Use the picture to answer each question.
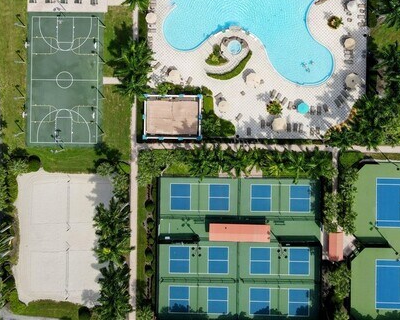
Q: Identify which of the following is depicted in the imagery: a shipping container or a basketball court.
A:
basketball court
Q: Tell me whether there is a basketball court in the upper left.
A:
Yes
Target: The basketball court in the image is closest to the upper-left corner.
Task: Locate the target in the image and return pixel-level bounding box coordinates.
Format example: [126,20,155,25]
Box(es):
[30,17,99,143]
